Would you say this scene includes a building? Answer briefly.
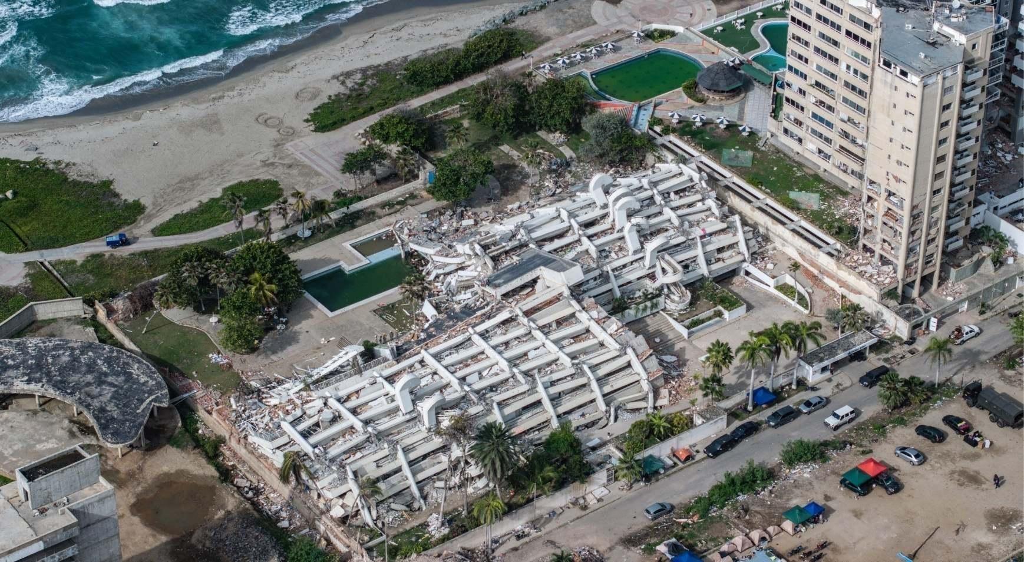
Yes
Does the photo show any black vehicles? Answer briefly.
Yes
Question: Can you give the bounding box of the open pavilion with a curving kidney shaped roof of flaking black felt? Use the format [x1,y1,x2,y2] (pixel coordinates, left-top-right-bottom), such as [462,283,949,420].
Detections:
[0,337,179,478]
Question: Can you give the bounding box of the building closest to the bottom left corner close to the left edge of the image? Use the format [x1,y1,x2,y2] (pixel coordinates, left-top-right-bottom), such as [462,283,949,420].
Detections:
[0,444,122,562]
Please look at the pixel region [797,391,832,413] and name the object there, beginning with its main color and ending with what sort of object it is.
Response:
gray car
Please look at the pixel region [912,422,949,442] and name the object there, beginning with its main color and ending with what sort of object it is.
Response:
black car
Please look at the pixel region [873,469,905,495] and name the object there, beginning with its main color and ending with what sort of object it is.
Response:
black car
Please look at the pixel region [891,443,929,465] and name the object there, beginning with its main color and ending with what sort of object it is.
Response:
gray car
